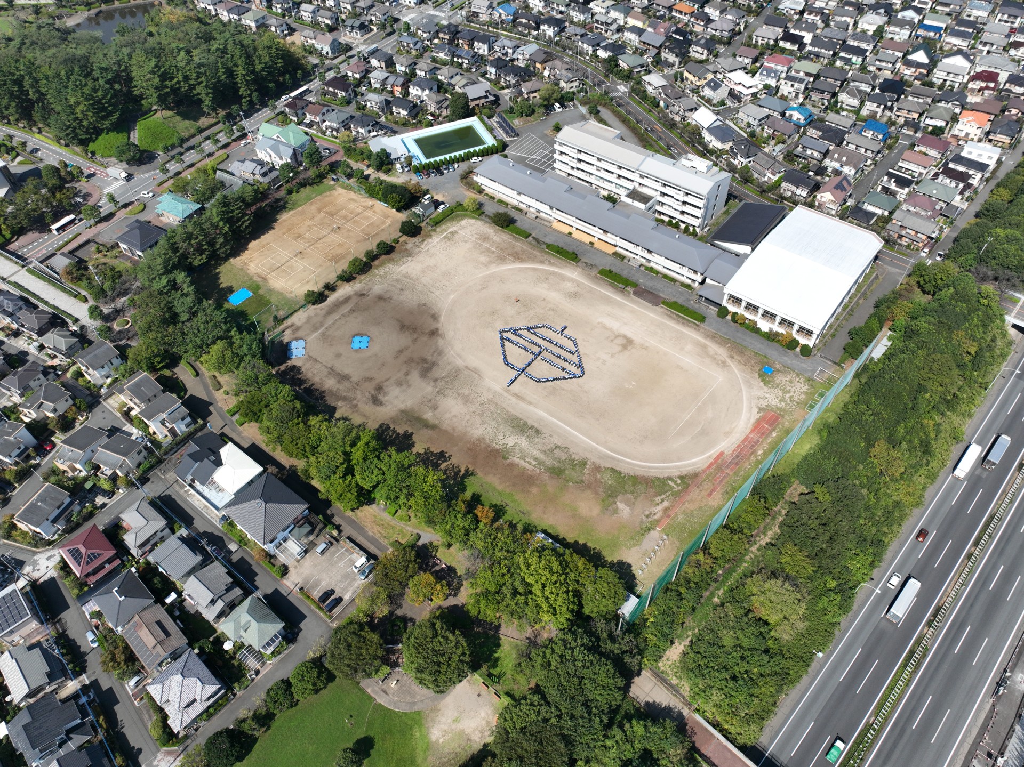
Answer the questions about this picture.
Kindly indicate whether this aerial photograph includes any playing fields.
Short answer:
Yes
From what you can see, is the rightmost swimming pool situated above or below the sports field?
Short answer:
above it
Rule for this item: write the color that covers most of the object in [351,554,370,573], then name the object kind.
white vehicle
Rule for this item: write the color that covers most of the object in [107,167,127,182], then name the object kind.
white vehicle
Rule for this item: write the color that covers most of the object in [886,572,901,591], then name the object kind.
white car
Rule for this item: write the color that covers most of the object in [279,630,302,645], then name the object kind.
black car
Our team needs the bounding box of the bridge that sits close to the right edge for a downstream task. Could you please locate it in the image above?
[994,291,1024,338]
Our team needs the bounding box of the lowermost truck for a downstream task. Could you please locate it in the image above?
[822,730,850,764]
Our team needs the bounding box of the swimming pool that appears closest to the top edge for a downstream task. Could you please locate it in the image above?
[397,112,496,165]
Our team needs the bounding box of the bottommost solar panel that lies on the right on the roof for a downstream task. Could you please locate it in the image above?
[822,178,851,200]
